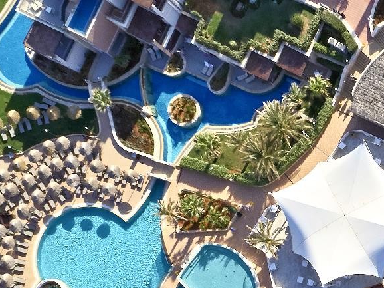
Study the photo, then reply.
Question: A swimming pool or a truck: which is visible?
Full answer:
I can see a swimming pool in this picture.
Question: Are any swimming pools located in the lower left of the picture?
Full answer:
Yes, I can see a swimming pool in the lower left of the picture.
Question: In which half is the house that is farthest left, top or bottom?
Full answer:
The house that is farthest left is in the top half of the image.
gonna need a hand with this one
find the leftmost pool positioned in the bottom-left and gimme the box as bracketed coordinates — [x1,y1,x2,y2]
[35,172,173,288]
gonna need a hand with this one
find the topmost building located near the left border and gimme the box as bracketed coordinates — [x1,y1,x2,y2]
[11,0,141,77]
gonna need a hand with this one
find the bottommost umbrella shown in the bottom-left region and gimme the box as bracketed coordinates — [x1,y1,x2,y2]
[2,273,18,288]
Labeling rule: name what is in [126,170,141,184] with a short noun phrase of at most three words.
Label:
umbrella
